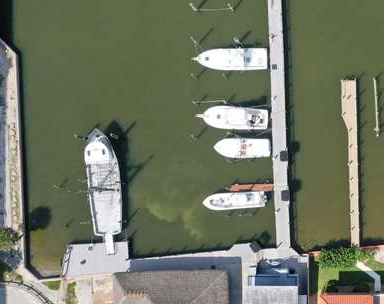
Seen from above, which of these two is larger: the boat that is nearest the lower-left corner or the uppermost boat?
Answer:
the boat that is nearest the lower-left corner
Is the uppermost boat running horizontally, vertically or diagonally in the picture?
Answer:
horizontally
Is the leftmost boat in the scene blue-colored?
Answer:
No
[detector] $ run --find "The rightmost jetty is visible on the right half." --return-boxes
[341,79,361,246]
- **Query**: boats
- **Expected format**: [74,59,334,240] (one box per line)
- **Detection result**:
[190,41,268,70]
[212,138,273,158]
[202,191,270,209]
[78,127,127,234]
[194,104,269,130]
